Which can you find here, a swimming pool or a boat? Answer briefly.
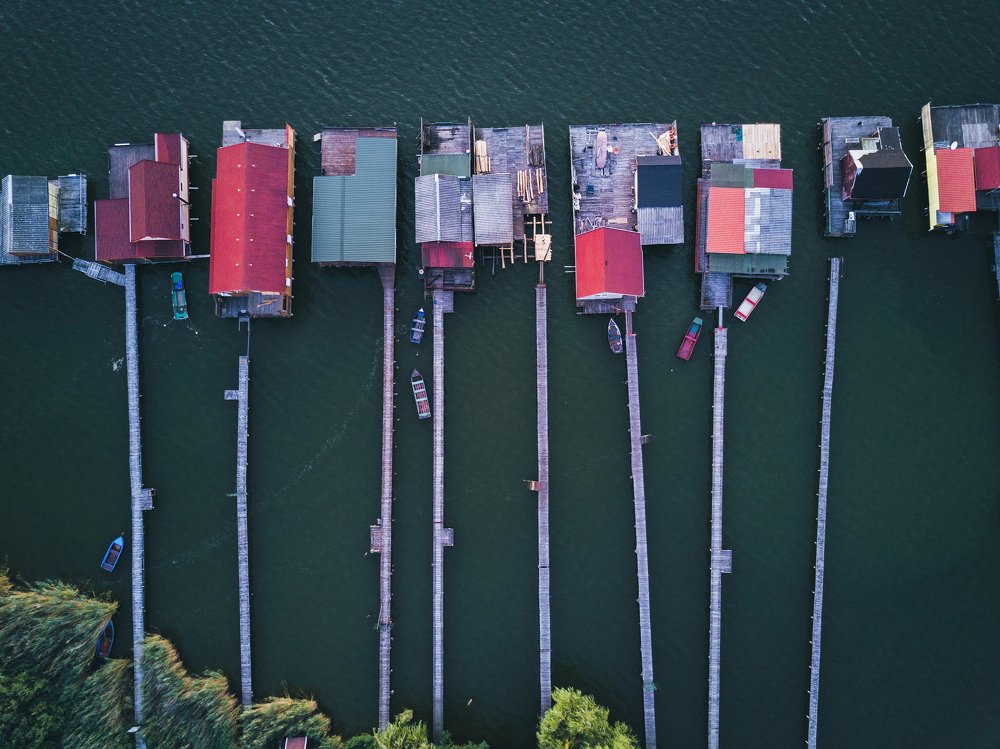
boat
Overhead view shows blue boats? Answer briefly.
Yes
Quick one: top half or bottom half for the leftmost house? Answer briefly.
top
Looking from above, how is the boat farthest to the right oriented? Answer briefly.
on a diagonal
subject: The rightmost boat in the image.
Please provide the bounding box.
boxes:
[733,281,768,323]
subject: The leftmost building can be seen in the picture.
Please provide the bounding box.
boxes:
[0,172,91,264]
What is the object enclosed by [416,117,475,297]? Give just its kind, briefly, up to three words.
house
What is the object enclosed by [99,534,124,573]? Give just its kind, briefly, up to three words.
boat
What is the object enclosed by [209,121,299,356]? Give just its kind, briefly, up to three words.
house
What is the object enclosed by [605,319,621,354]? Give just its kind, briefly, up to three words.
boat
